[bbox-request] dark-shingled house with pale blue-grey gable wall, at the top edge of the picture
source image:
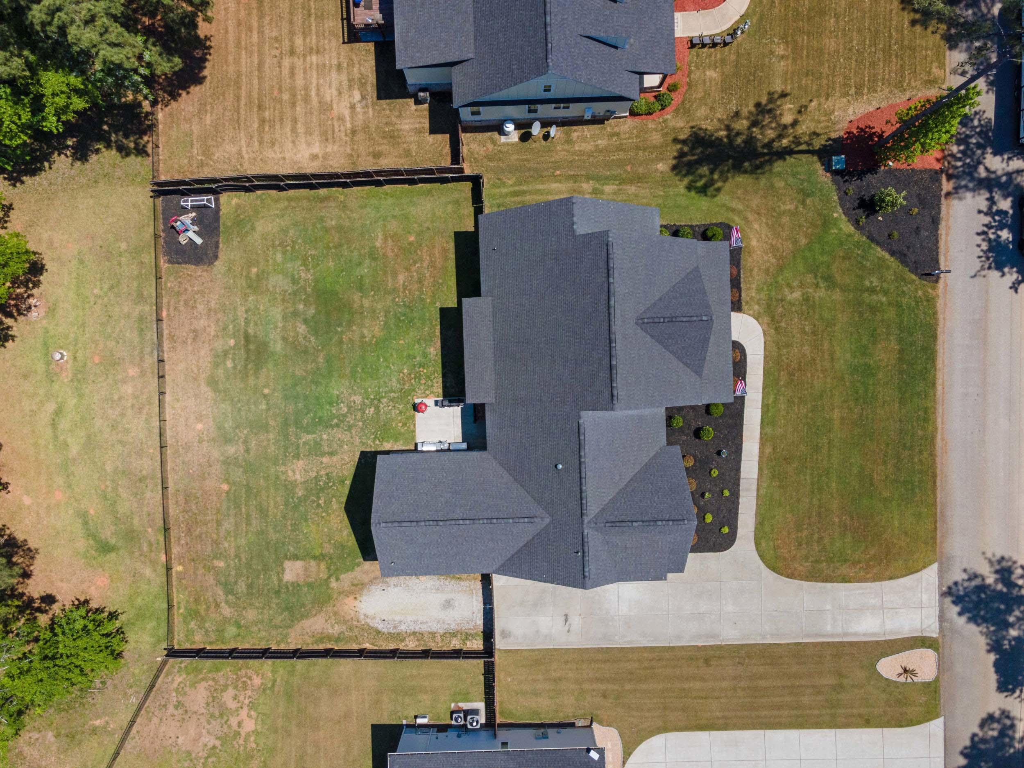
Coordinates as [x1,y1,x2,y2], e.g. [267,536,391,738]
[393,0,676,125]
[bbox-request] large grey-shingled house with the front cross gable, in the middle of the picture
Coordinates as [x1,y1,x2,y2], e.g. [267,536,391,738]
[372,196,735,590]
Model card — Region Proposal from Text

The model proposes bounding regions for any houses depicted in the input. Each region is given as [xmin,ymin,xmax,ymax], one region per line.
[385,724,608,768]
[372,196,735,590]
[393,0,676,125]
